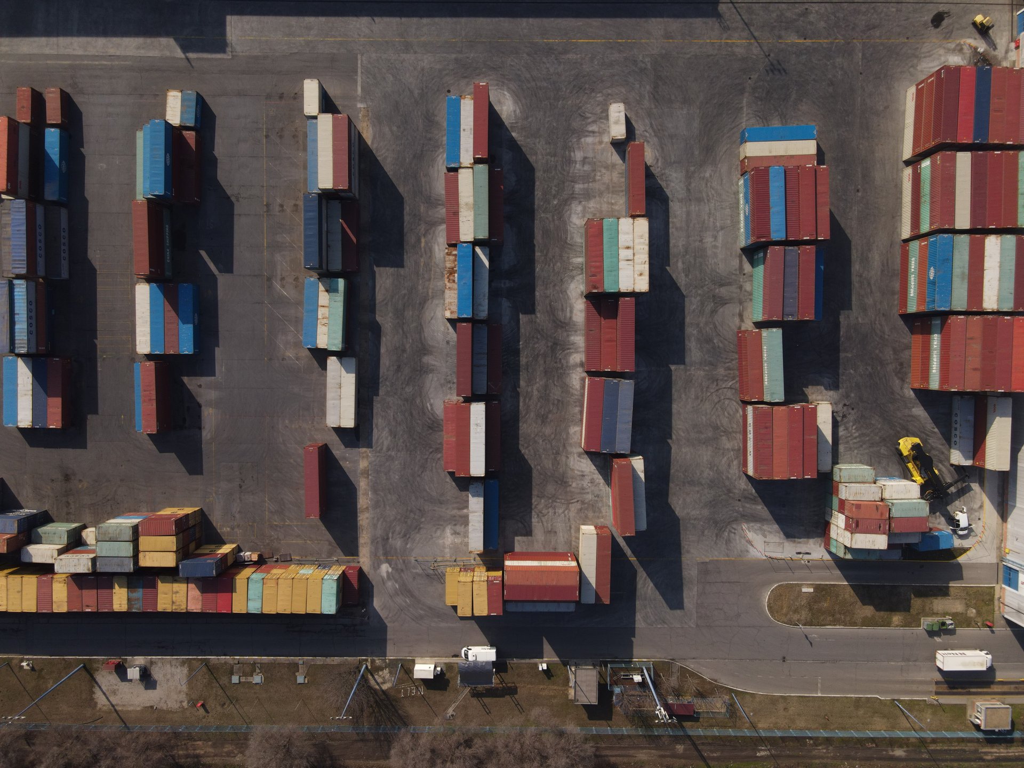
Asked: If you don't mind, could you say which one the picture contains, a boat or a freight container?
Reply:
freight container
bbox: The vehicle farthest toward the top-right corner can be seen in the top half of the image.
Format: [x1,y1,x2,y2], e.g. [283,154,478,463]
[977,13,1003,37]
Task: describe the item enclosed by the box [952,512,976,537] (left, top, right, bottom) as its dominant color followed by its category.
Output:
white car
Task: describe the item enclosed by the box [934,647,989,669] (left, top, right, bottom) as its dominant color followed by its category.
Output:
white truck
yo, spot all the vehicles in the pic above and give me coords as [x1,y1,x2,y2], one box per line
[977,13,1003,37]
[462,642,496,658]
[900,438,964,501]
[934,647,989,669]
[952,512,976,537]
